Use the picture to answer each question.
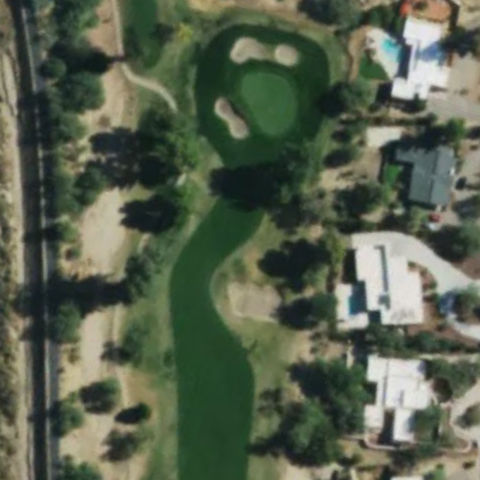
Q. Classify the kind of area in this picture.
golf course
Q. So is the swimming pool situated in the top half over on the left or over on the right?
right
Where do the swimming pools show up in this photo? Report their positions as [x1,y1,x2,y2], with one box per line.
[376,35,404,65]
[348,282,368,316]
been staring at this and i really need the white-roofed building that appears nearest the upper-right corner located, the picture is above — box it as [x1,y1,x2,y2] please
[391,17,452,100]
